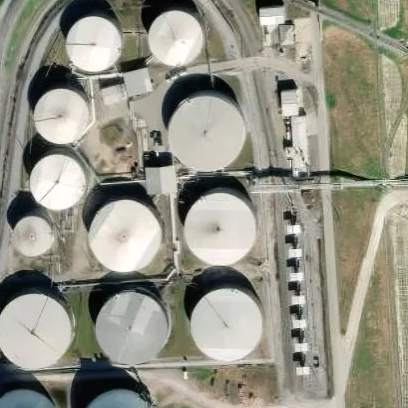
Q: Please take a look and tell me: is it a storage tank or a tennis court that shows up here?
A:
storage tank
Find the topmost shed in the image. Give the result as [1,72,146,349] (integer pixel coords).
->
[260,4,285,25]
